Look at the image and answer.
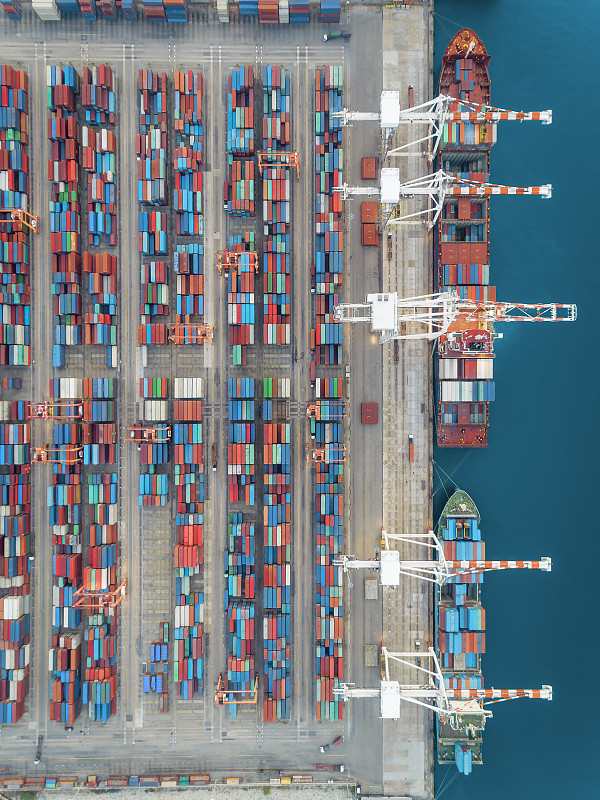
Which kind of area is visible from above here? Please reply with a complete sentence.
This image shows a port.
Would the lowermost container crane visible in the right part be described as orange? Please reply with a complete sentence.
No, the lowermost container crane visible in the right part is actually white.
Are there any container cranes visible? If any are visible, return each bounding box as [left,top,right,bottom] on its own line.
[332,92,557,170]
[215,249,262,274]
[164,323,216,345]
[72,579,130,607]
[0,209,40,236]
[304,400,349,420]
[332,638,557,716]
[332,523,557,585]
[256,152,302,182]
[330,293,577,351]
[30,443,86,465]
[305,442,349,464]
[123,423,175,444]
[30,401,85,421]
[214,664,259,697]
[332,168,557,235]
